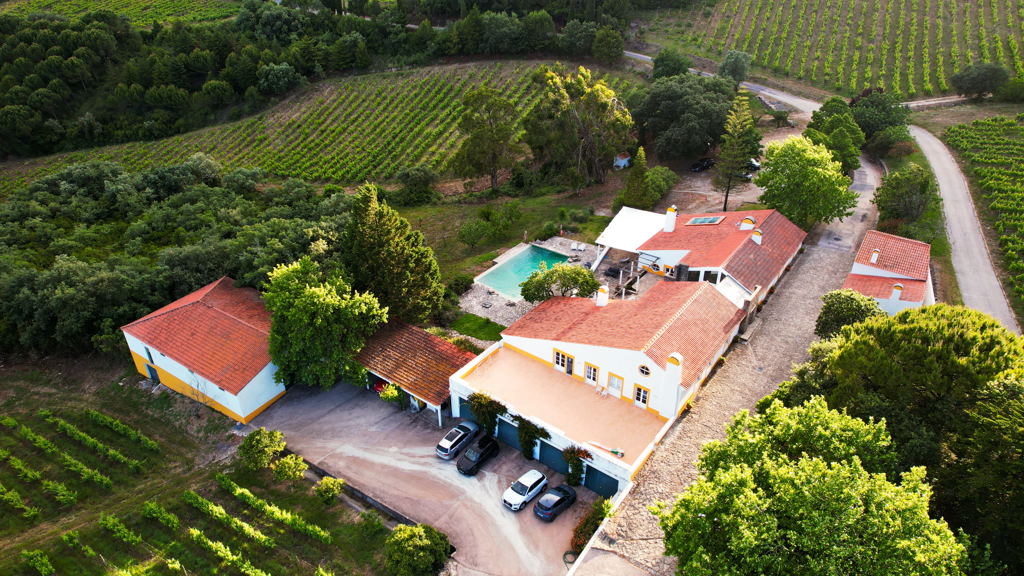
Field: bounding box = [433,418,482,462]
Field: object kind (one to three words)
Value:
car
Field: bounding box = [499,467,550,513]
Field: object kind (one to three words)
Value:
car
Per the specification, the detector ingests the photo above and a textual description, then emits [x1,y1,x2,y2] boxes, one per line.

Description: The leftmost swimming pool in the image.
[473,239,574,296]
